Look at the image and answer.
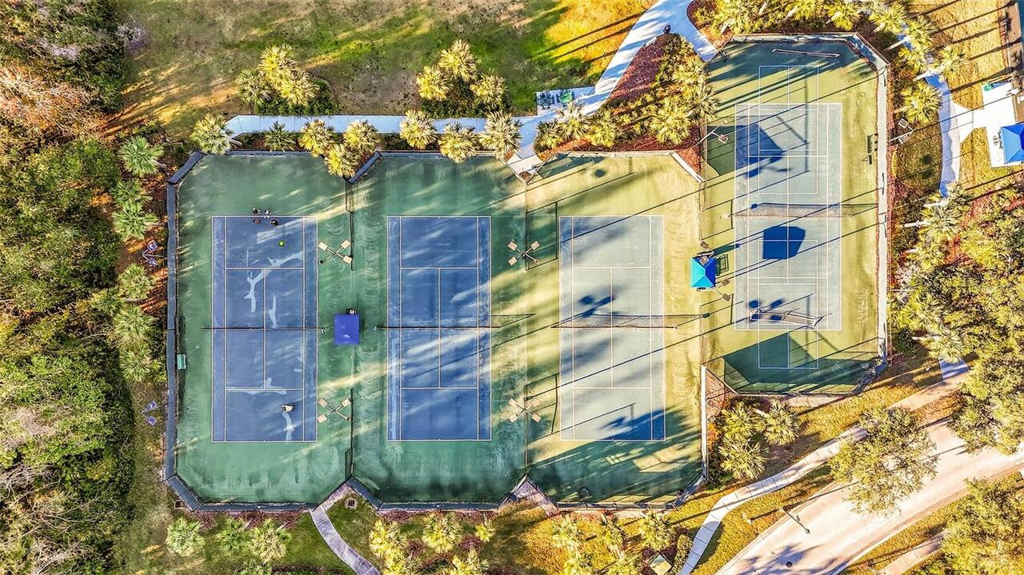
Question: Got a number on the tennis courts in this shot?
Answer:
4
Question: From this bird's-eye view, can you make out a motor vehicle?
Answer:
No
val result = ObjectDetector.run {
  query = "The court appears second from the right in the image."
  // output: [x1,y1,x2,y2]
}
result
[526,154,703,505]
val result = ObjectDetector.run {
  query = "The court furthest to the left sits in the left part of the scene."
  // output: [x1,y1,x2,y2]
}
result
[178,156,350,504]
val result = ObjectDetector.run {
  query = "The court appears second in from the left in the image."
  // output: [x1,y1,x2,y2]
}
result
[350,156,526,504]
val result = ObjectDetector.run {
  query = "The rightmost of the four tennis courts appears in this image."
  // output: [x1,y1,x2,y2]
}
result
[703,41,878,394]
